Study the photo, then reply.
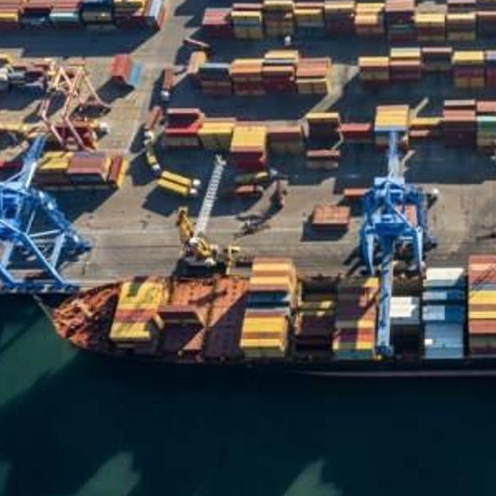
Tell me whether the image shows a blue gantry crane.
Yes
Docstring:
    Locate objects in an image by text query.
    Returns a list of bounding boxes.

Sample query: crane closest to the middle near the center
[176,150,229,284]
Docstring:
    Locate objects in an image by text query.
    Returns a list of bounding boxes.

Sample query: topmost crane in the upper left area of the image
[40,68,109,150]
